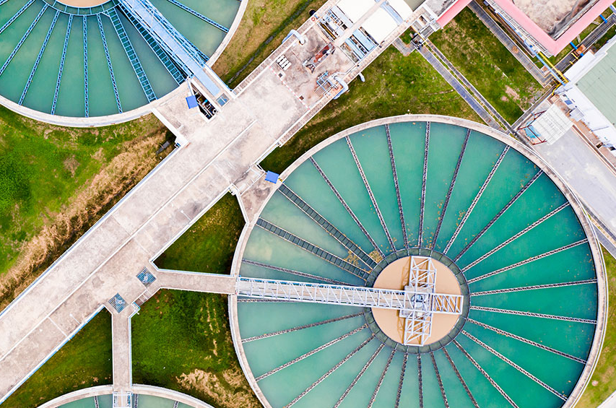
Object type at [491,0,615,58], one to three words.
building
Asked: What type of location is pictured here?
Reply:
industrial area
